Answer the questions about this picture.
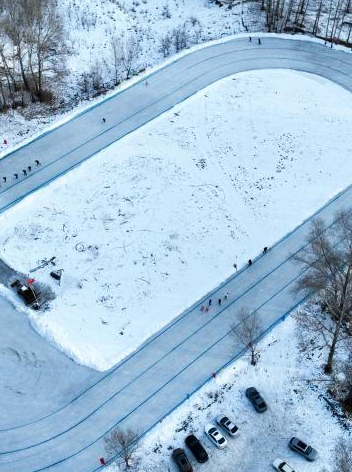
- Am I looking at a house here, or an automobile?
automobile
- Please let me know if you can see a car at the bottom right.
Yes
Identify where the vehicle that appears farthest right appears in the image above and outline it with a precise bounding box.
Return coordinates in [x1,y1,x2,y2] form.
[289,435,319,463]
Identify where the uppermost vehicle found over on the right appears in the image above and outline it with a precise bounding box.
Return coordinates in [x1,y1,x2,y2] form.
[245,387,270,414]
